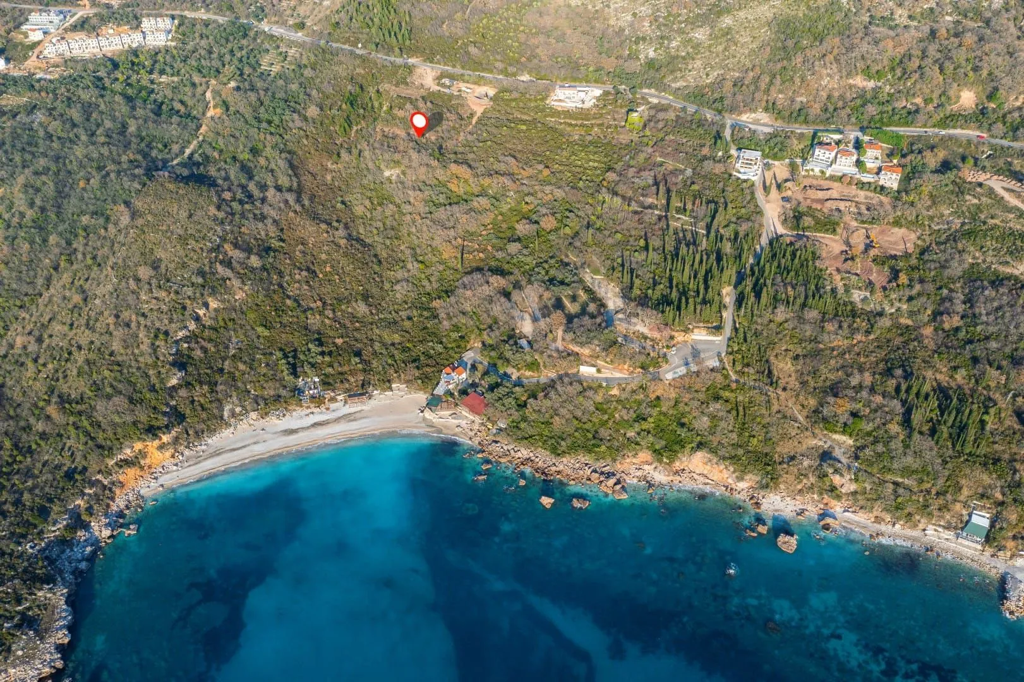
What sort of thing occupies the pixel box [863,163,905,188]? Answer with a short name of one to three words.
house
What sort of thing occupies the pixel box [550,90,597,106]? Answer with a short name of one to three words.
house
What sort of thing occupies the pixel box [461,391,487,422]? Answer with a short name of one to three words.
building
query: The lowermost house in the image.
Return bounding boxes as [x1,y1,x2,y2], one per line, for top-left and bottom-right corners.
[960,508,990,551]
